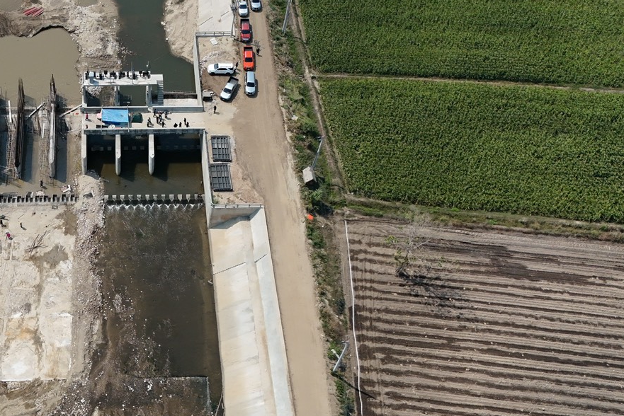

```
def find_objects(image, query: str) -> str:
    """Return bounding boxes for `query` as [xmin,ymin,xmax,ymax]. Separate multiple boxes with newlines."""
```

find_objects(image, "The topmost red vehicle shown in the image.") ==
[239,16,252,41]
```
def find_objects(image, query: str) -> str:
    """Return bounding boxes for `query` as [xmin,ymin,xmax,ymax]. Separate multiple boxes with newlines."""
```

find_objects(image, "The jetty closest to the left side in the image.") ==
[12,75,27,179]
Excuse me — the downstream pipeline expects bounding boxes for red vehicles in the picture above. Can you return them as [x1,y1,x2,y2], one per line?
[239,16,252,41]
[242,45,256,68]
